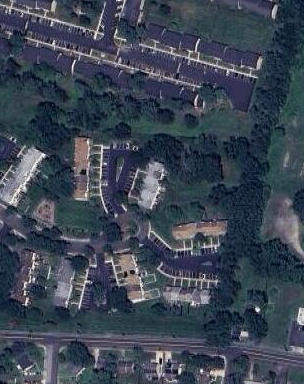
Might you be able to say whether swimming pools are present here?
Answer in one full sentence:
No, I can see no swimming pool in this picture.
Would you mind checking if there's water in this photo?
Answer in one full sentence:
No, no water is visible.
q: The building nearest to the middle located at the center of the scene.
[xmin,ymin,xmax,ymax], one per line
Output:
[140,161,167,209]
